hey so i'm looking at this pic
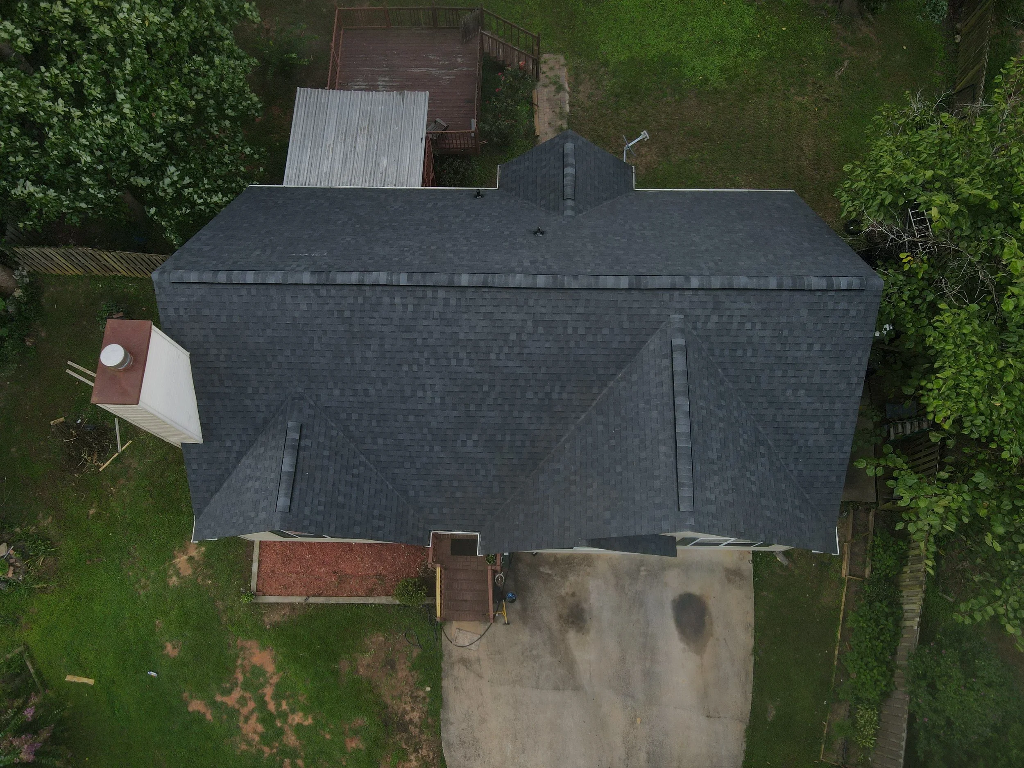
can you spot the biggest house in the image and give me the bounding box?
[89,130,884,557]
